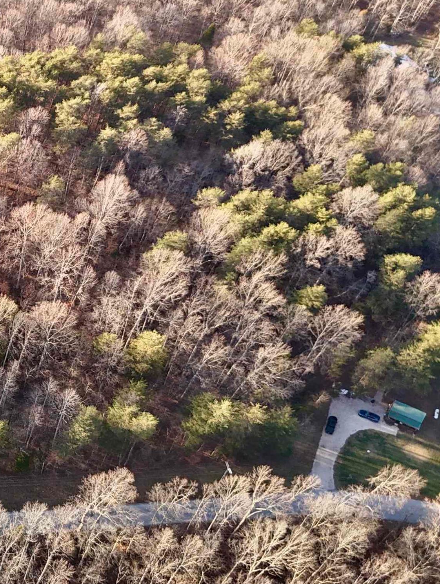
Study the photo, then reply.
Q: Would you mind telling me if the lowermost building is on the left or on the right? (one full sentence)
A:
The lowermost building sits on the right side.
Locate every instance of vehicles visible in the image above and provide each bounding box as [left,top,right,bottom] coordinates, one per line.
[324,418,337,434]
[357,412,380,423]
